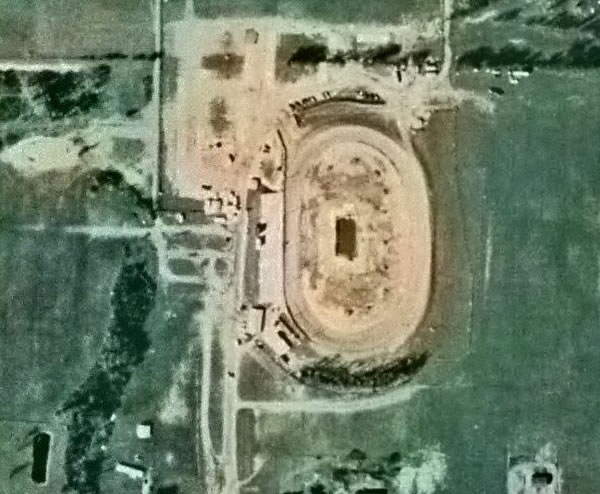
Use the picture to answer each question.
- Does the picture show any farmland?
Yes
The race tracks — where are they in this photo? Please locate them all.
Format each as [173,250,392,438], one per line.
[285,114,442,369]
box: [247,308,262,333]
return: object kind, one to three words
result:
building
